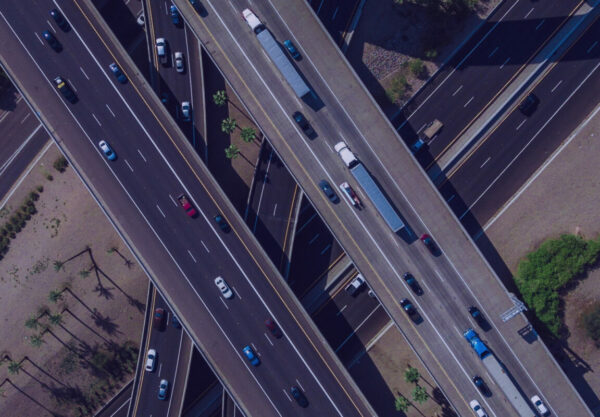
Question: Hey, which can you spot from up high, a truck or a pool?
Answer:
truck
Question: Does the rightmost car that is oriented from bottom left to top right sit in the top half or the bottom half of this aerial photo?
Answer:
top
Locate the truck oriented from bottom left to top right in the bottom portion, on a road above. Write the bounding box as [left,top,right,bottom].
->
[342,273,364,296]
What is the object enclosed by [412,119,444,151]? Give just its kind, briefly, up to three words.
truck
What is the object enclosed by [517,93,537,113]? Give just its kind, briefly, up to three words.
car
